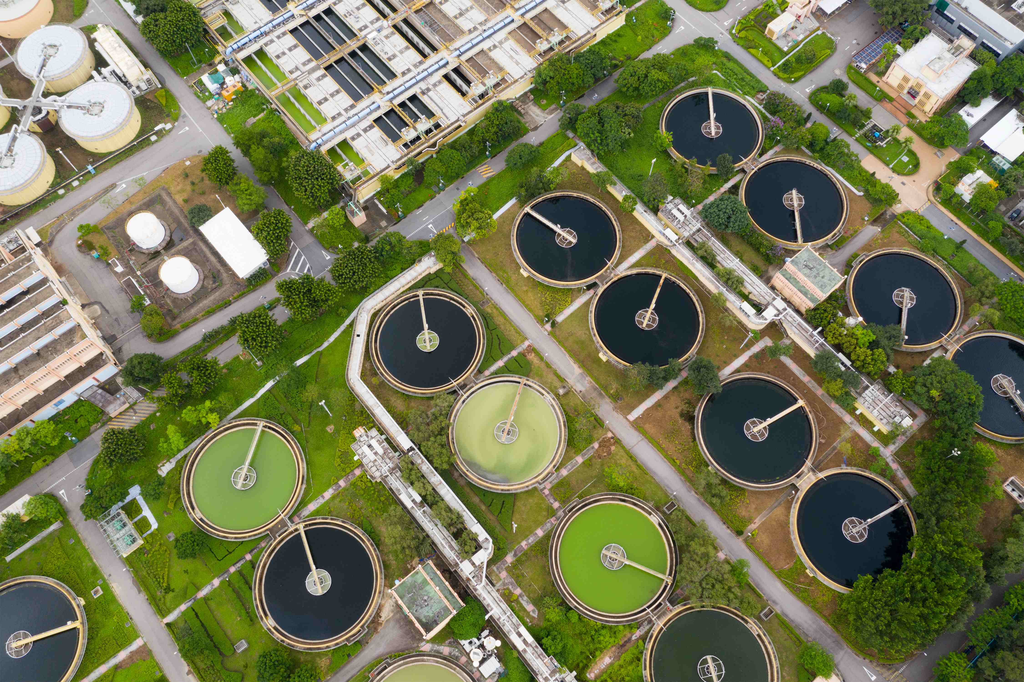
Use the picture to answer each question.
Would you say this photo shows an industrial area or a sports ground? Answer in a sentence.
What you see here is an industrial area.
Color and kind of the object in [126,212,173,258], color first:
white storage tank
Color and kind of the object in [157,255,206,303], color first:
white storage tank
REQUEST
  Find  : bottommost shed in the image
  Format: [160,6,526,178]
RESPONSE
[476,653,511,681]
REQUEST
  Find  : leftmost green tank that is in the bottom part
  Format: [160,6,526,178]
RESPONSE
[179,417,307,541]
